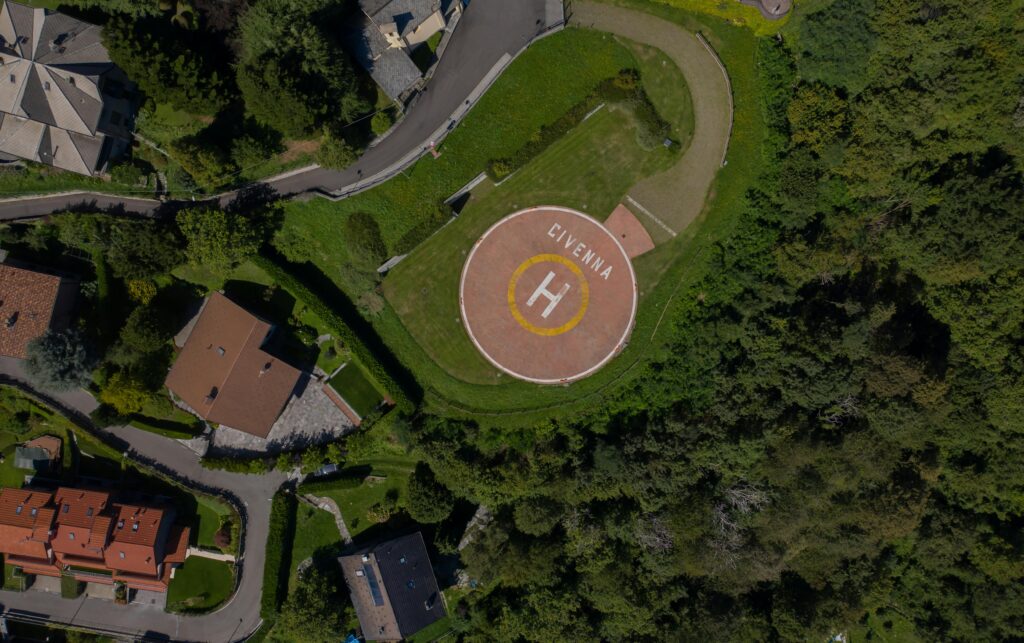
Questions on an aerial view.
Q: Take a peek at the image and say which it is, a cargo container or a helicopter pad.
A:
helicopter pad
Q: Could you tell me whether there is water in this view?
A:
No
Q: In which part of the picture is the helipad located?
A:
center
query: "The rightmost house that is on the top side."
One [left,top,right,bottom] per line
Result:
[358,0,444,120]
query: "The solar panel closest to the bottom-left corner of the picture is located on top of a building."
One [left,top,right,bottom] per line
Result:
[364,564,384,606]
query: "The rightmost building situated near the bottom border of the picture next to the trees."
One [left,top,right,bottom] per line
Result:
[338,527,447,640]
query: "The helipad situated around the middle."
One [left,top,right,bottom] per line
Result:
[458,204,654,385]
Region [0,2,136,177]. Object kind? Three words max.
house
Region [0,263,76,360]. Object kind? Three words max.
house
